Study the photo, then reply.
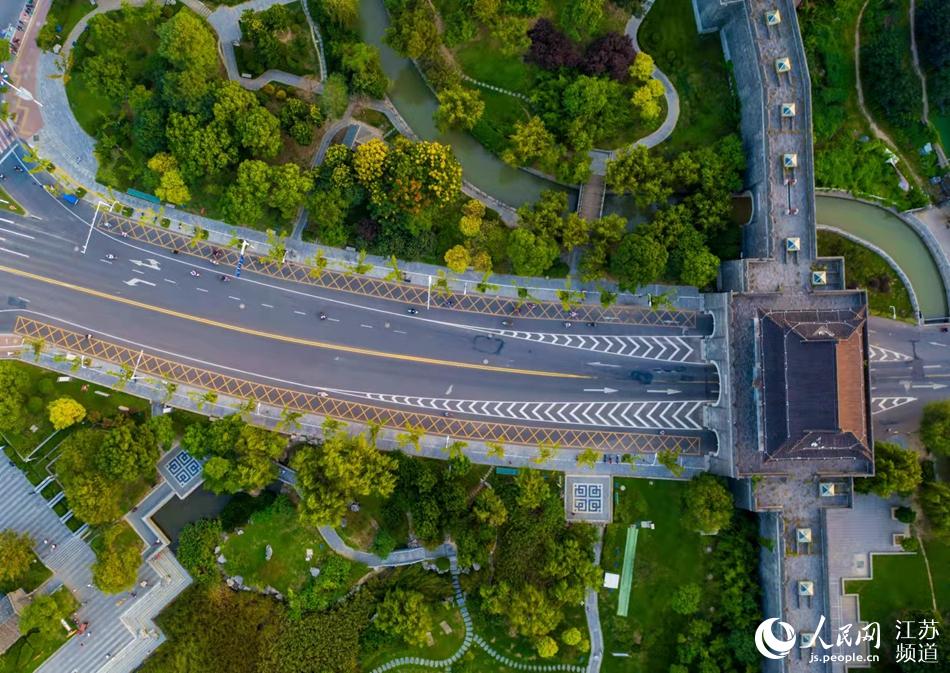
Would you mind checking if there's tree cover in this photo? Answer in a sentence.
Yes, the picture does contain tree cover.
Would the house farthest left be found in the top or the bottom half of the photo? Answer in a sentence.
You can find the house farthest left in the bottom half.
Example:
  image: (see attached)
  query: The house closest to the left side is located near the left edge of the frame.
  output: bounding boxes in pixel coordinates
[0,580,44,655]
